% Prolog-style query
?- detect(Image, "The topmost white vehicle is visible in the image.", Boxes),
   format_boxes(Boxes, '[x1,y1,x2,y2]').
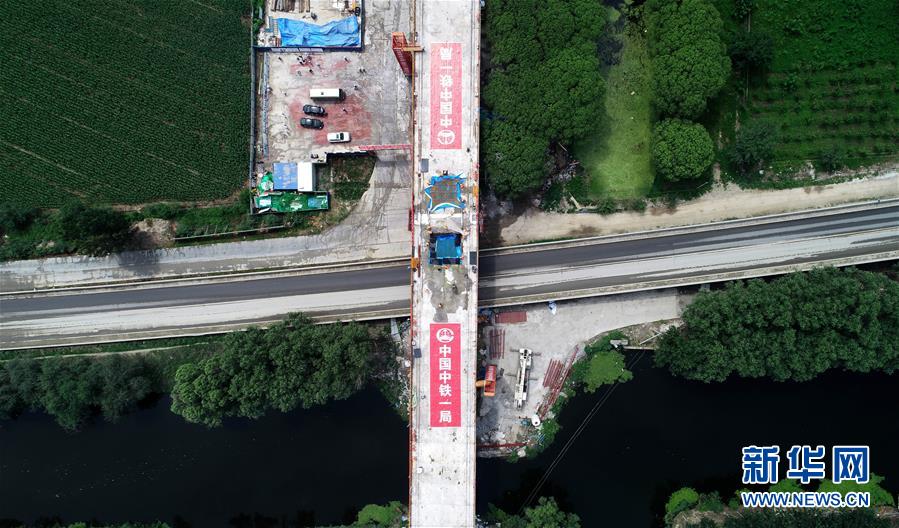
[309,88,345,102]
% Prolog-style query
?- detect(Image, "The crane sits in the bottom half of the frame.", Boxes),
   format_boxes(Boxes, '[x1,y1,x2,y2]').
[506,351,541,410]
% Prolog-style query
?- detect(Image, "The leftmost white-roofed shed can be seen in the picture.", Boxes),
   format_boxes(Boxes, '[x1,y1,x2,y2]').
[298,162,318,192]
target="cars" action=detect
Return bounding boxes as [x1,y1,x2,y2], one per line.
[327,132,350,142]
[303,105,326,116]
[300,119,324,129]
